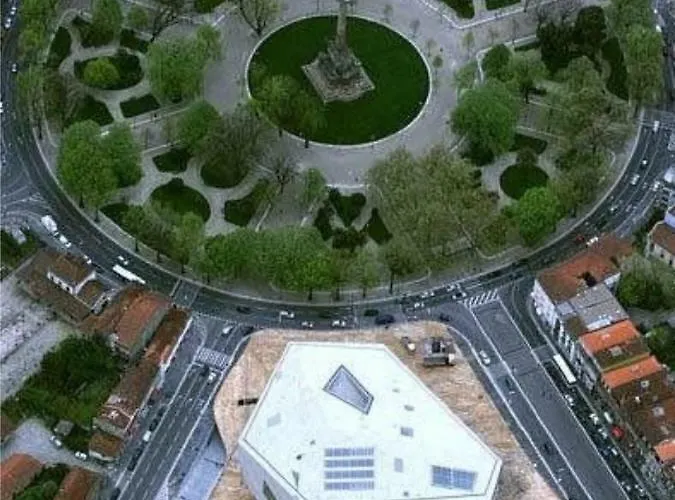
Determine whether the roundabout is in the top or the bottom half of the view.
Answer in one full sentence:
The roundabout is in the top half of the image.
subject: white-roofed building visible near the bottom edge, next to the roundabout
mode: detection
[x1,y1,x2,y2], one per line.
[240,340,502,500]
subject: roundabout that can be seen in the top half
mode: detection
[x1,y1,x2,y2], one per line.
[0,0,675,333]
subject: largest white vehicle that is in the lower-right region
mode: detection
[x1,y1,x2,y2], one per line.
[551,350,580,387]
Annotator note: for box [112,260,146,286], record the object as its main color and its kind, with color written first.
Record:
white bus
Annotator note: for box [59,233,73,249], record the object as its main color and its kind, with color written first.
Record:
white vehicle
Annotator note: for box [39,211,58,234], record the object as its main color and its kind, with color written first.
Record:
white vehicle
